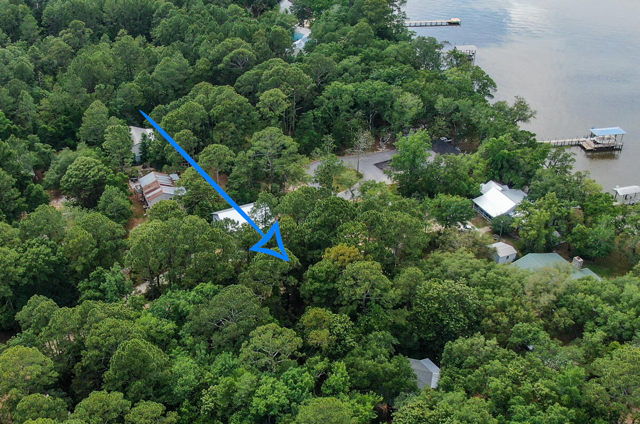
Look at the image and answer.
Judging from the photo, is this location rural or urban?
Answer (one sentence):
The area is rural.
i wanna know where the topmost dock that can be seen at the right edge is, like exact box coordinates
[542,137,624,153]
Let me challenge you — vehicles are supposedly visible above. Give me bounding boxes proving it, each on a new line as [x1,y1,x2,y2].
[438,136,454,142]
[459,222,477,230]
